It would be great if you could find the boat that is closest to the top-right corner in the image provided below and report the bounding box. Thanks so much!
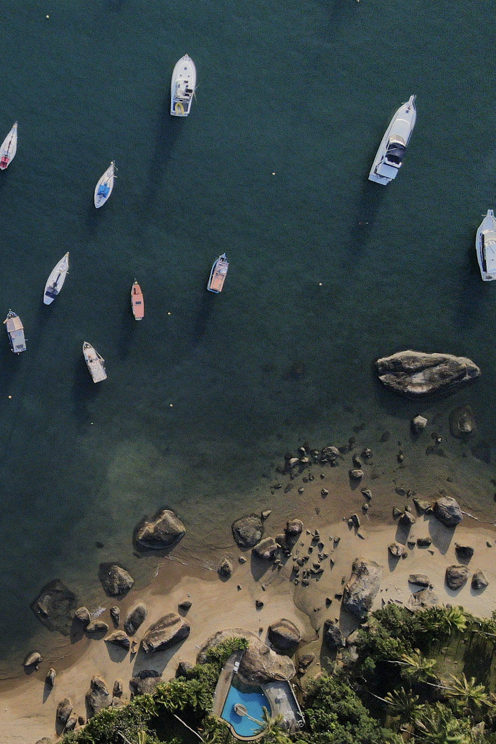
[362,92,418,191]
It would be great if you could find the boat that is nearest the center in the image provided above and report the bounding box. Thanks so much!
[206,253,232,294]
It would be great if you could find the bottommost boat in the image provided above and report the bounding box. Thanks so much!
[83,343,107,383]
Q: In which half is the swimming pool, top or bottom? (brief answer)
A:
bottom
